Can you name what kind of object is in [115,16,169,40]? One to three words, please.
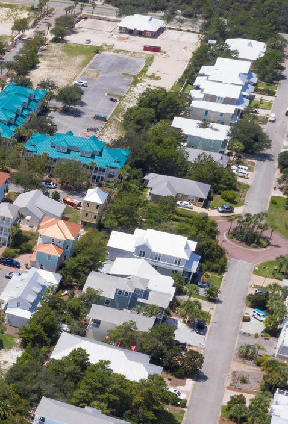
building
